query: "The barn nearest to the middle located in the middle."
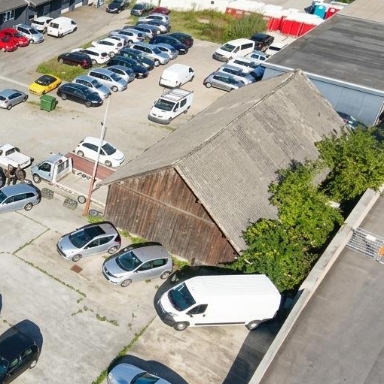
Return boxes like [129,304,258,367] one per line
[89,66,345,275]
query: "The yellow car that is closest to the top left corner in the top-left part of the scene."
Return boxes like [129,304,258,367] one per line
[27,71,63,93]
